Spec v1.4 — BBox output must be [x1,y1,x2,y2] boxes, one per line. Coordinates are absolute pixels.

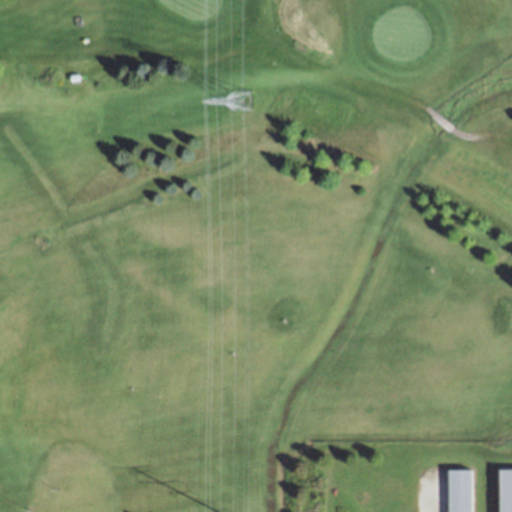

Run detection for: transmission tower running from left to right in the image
[204,92,252,110]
